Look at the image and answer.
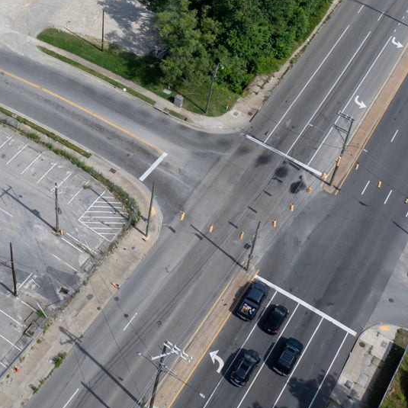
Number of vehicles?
4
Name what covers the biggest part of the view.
paved ground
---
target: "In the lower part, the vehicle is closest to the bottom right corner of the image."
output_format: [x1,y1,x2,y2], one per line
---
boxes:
[265,333,304,384]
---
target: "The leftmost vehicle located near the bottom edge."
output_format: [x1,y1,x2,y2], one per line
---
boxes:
[227,346,261,391]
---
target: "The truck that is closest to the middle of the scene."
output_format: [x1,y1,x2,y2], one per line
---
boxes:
[230,279,267,326]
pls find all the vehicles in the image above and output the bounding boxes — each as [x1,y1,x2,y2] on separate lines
[259,302,290,341]
[230,279,267,326]
[227,346,261,391]
[265,333,304,384]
